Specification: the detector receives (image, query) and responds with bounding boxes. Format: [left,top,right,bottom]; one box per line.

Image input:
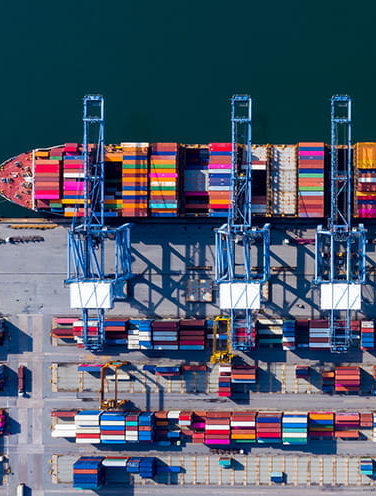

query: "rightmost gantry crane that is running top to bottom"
[309,93,369,353]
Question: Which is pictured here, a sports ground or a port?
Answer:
port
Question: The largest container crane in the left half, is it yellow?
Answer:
No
